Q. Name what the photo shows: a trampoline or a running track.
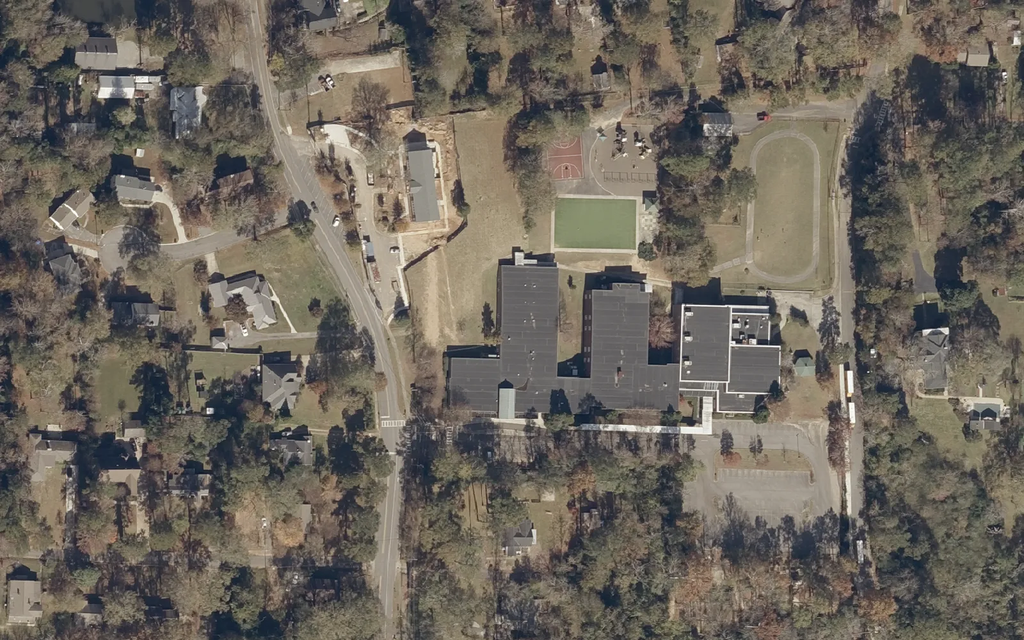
running track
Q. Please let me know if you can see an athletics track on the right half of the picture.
Yes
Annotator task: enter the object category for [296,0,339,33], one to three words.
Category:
house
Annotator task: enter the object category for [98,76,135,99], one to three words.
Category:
building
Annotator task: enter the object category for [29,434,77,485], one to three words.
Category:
house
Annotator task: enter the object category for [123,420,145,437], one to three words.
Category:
shed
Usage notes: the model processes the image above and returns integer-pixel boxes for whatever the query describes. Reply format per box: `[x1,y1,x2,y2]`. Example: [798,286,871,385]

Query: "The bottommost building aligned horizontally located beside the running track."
[447,266,781,419]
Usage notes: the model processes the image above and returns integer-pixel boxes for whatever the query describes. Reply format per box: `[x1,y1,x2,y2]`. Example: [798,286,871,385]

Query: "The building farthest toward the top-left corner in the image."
[74,38,119,71]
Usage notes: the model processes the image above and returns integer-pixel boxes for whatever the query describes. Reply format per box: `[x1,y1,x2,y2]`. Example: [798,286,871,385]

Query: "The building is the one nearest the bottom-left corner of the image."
[8,580,42,623]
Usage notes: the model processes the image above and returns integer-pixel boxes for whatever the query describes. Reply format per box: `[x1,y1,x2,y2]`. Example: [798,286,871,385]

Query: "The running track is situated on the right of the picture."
[748,130,820,283]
